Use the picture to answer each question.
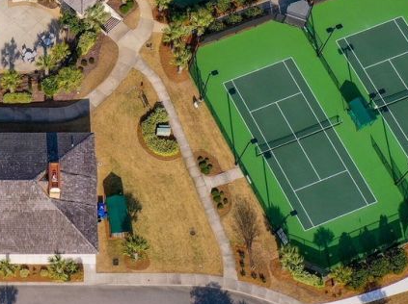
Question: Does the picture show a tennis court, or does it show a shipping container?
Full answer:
I can see a tennis court in this picture.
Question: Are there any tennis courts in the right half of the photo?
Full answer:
Yes, in the right half of the photo there is a tennis court.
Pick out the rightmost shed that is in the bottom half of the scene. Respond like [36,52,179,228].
[101,194,130,246]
